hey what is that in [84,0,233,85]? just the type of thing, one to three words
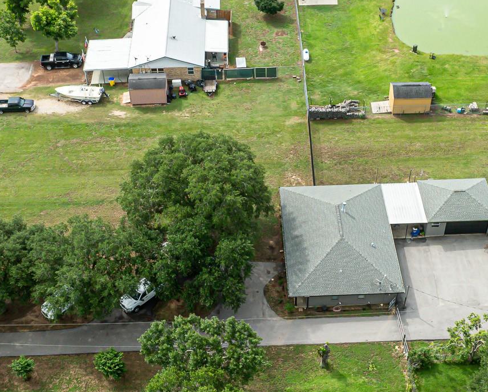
house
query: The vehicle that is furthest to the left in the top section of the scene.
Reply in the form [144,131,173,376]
[0,99,36,119]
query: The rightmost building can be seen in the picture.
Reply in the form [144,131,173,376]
[416,178,488,236]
